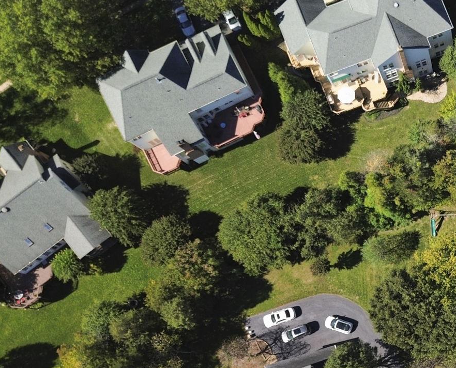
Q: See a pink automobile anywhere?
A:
No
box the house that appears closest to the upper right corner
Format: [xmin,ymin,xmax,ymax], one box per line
[274,0,454,120]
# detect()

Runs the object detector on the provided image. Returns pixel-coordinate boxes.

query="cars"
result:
[324,315,356,335]
[263,307,298,326]
[222,4,244,35]
[281,324,313,342]
[180,6,196,37]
